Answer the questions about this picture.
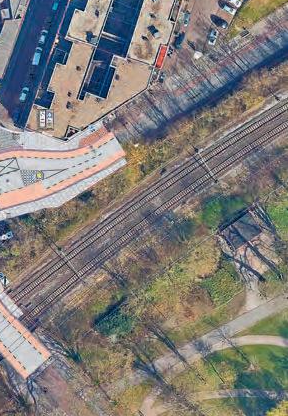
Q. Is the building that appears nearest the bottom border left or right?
right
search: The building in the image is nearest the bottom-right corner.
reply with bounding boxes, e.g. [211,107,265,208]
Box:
[218,203,275,251]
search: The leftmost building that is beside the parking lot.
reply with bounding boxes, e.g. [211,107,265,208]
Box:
[22,0,175,142]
